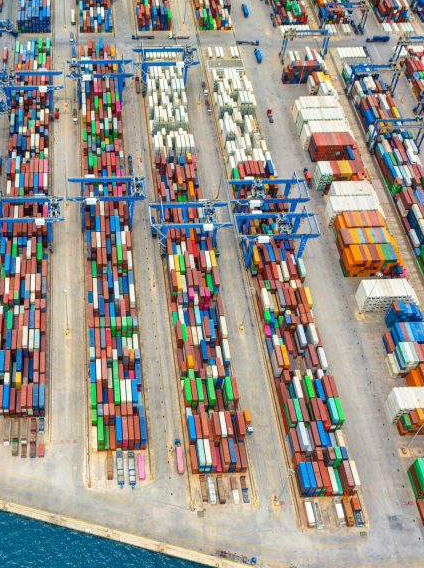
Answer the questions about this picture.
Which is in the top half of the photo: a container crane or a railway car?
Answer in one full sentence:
Looking in the top half of the photo, you will find a container crane.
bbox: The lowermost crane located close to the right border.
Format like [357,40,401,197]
[367,118,424,160]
